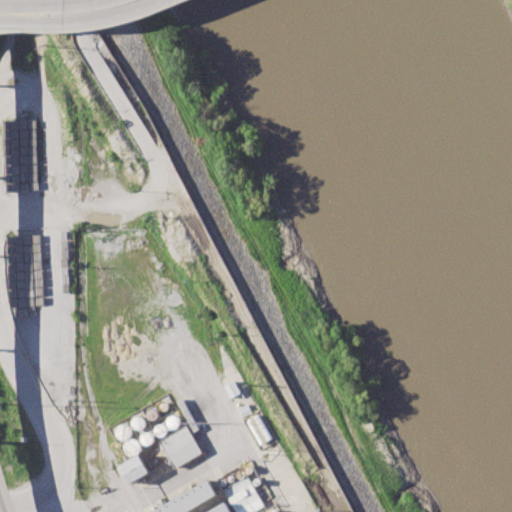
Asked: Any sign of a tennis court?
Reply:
No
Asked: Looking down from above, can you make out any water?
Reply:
Yes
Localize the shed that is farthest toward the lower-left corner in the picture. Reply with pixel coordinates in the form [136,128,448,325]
[118,456,148,483]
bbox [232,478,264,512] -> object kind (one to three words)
building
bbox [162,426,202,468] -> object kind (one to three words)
building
